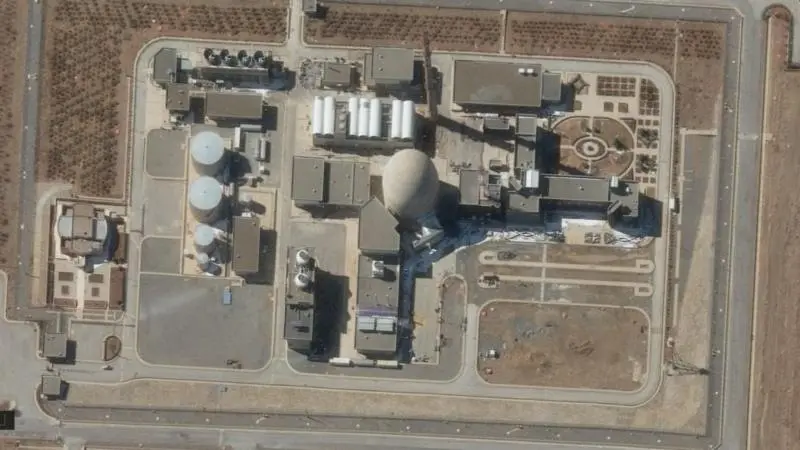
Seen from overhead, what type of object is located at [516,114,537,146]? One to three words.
building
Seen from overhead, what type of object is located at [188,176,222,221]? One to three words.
storage tank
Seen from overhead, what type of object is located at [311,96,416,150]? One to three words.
building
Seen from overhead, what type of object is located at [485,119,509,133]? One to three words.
house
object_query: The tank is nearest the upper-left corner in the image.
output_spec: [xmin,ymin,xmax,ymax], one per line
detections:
[191,132,225,177]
